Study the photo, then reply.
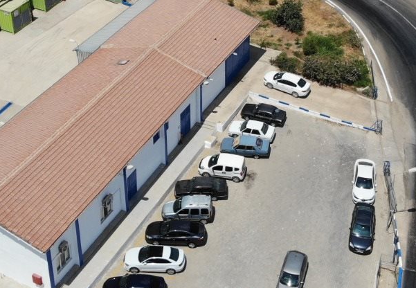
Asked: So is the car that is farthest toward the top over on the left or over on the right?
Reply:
right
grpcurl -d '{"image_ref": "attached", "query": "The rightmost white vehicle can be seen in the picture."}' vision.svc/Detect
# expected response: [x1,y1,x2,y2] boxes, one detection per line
[352,159,378,206]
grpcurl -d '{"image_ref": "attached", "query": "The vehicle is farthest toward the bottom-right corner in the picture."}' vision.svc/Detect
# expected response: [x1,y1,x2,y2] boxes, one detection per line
[349,202,378,254]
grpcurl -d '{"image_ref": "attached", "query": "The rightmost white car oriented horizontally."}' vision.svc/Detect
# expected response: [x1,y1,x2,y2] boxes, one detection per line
[263,73,313,99]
